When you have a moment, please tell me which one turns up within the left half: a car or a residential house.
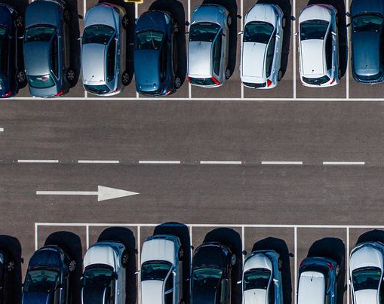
car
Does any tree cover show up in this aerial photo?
No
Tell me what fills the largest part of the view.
paved ground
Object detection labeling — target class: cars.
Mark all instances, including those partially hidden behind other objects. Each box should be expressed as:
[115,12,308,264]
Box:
[133,233,186,304]
[0,4,25,98]
[19,244,74,304]
[292,4,342,87]
[19,0,75,98]
[237,249,285,304]
[130,11,180,95]
[180,5,232,87]
[344,0,384,84]
[345,240,384,304]
[236,4,286,90]
[185,240,236,304]
[298,257,339,304]
[75,240,130,304]
[74,4,128,95]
